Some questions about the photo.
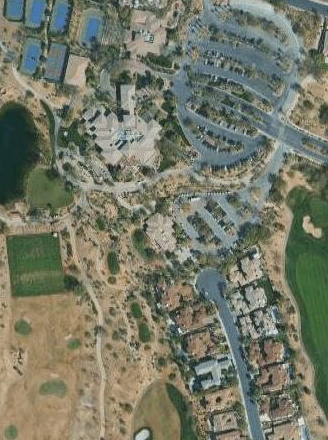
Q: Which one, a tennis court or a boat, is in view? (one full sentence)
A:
The one in the frame is a tennis court.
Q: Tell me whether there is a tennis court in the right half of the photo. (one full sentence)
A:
No, I see no tennis court in the right half of the photo.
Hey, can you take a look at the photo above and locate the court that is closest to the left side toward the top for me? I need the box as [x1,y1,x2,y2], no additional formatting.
[4,0,25,21]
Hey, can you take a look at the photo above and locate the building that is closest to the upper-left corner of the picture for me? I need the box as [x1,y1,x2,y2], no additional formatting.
[62,54,90,86]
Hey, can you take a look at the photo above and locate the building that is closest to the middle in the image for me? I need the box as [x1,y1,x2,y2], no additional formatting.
[145,212,180,254]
